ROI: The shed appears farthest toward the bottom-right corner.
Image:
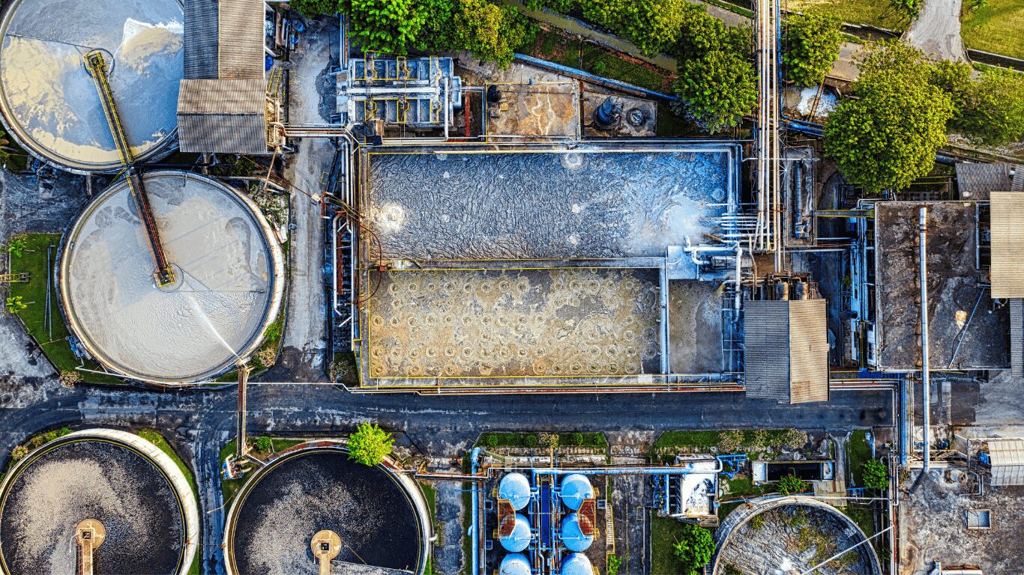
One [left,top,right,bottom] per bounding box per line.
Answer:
[971,438,1024,486]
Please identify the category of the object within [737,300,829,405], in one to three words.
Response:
shed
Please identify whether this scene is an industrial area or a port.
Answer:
industrial area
